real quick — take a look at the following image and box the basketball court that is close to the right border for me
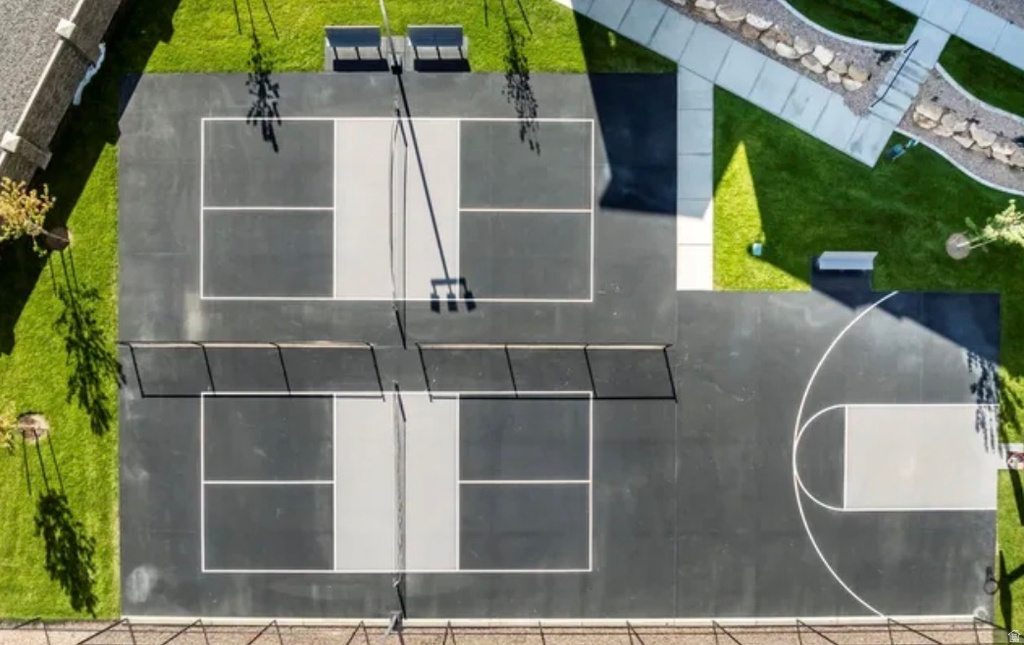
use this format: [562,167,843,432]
[677,293,999,617]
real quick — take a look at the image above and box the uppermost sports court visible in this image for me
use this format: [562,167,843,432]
[200,118,594,302]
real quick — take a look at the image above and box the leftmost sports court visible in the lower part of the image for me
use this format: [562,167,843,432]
[201,392,592,572]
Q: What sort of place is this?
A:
sports ground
